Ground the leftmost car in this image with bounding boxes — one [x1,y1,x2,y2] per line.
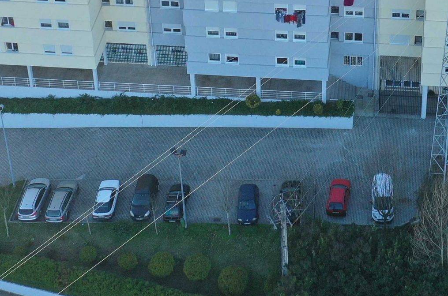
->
[13,179,51,222]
